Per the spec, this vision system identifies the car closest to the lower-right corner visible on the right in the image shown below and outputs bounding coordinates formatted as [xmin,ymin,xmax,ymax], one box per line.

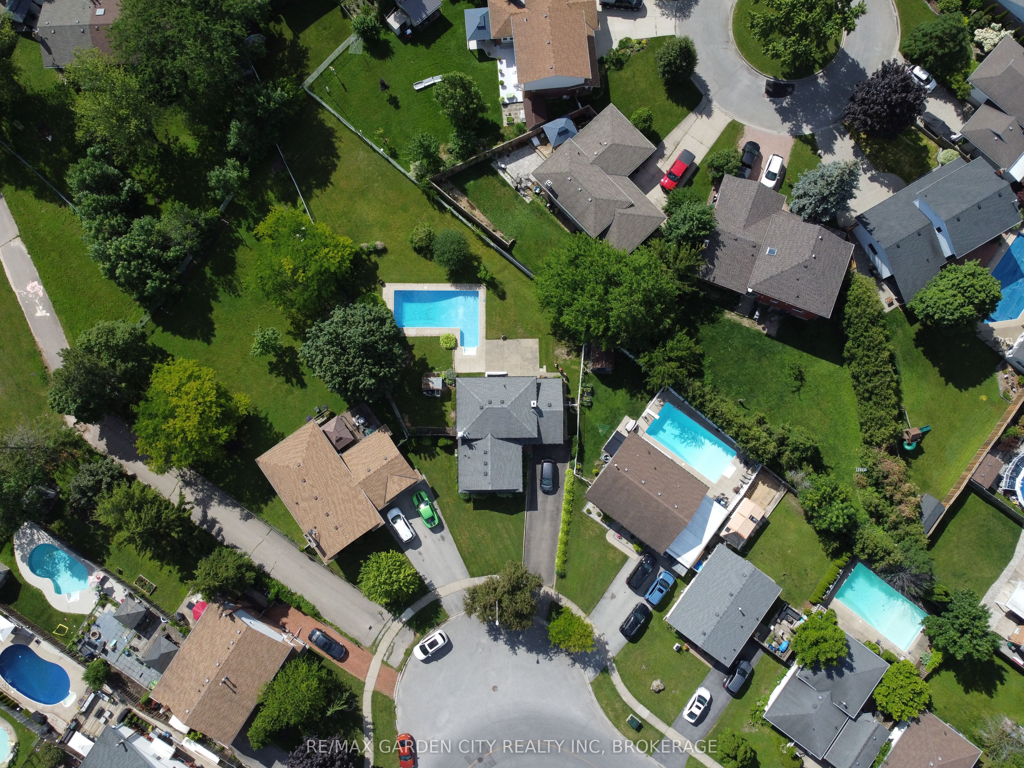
[722,657,753,698]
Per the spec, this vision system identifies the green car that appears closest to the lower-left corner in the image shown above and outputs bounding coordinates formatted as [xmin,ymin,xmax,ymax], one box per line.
[412,489,439,529]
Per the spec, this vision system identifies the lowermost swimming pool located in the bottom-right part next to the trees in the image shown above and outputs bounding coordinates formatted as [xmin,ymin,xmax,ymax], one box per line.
[835,564,924,652]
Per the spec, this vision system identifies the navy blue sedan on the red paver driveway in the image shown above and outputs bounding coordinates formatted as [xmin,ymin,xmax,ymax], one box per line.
[309,626,345,659]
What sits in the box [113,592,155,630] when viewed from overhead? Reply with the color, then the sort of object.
gray gazebo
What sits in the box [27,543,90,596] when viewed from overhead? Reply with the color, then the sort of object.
blue swimming pool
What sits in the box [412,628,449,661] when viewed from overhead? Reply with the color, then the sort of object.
white car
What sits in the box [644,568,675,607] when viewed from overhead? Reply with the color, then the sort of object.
blue car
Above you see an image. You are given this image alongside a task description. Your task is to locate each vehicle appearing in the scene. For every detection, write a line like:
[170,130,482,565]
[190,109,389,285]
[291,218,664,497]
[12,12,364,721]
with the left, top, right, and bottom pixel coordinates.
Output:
[398,732,416,768]
[722,657,753,698]
[738,140,761,178]
[412,489,439,529]
[682,685,711,724]
[904,63,938,96]
[387,505,415,544]
[412,628,449,661]
[309,626,345,659]
[619,601,650,642]
[660,148,695,191]
[538,457,556,493]
[623,550,657,594]
[644,568,675,607]
[759,152,783,188]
